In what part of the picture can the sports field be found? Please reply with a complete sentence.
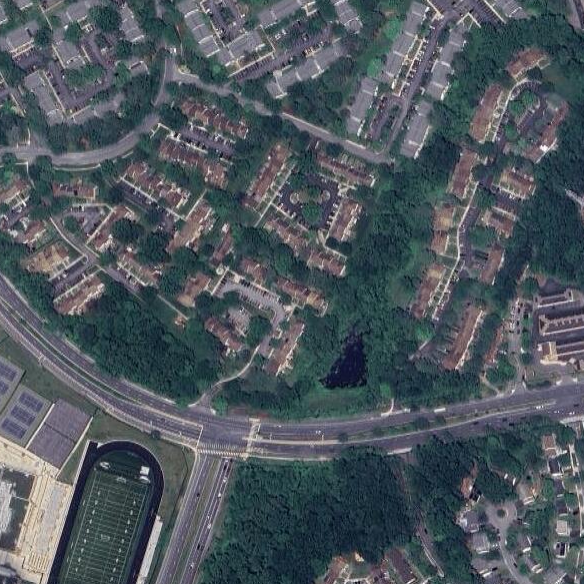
You can find the sports field in the bottom left area of the picture.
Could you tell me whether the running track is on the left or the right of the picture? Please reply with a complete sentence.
The running track appears in the left half of the scene.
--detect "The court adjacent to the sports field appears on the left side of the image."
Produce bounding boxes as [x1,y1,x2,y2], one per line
[28,399,91,461]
